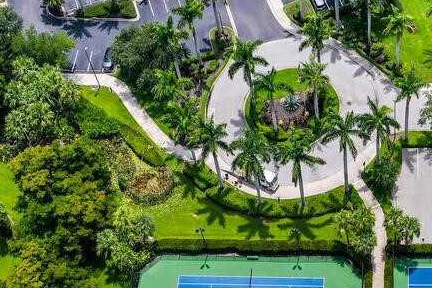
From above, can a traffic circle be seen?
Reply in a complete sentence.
Yes, there's a traffic circle here.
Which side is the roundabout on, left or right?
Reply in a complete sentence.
You can find the roundabout on the right side of the picture.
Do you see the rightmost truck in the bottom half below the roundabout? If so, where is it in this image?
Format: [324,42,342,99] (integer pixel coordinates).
[253,173,281,194]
